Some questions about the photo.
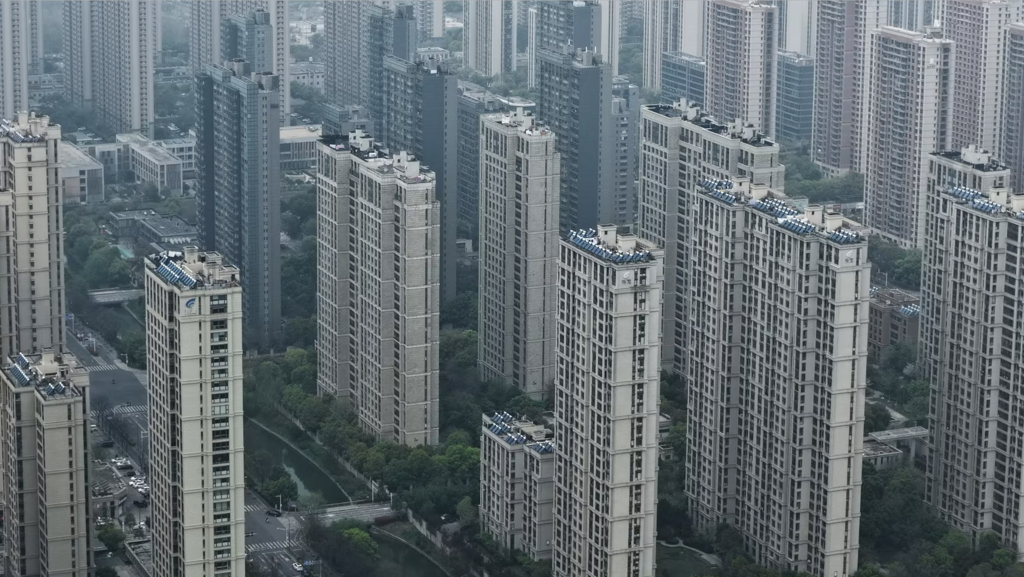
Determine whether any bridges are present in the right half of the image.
No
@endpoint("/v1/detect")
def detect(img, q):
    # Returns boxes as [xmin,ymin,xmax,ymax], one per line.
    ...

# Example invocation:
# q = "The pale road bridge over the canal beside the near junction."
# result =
[311,499,407,528]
